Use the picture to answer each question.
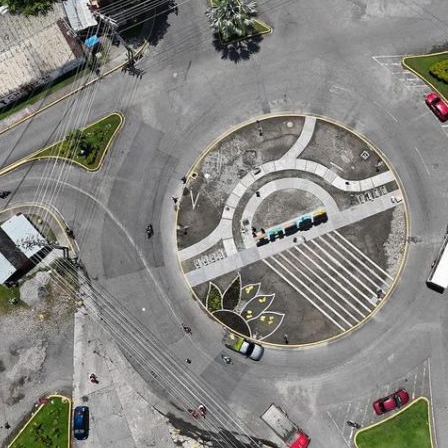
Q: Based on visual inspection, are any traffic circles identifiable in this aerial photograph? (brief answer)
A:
Yes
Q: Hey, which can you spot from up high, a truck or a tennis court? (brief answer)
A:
truck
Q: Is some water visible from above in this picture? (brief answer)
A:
No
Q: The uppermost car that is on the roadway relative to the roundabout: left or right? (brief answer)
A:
to its right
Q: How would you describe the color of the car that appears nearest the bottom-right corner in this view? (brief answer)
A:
red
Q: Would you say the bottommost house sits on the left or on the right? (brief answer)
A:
left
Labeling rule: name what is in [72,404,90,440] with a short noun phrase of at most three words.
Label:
car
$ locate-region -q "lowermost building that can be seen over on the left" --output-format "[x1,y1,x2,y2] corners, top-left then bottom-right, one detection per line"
[0,214,58,284]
